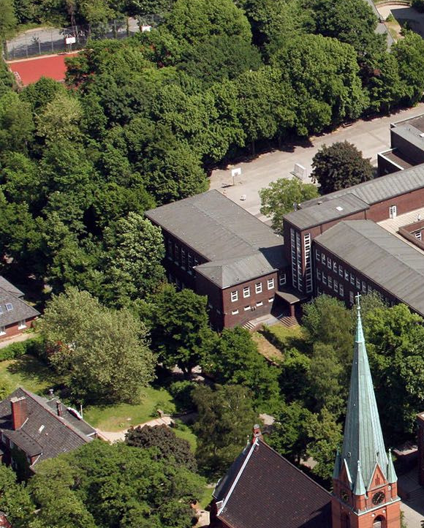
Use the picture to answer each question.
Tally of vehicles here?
0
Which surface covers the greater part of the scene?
trees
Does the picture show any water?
No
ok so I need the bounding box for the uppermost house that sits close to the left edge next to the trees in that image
[0,282,40,344]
